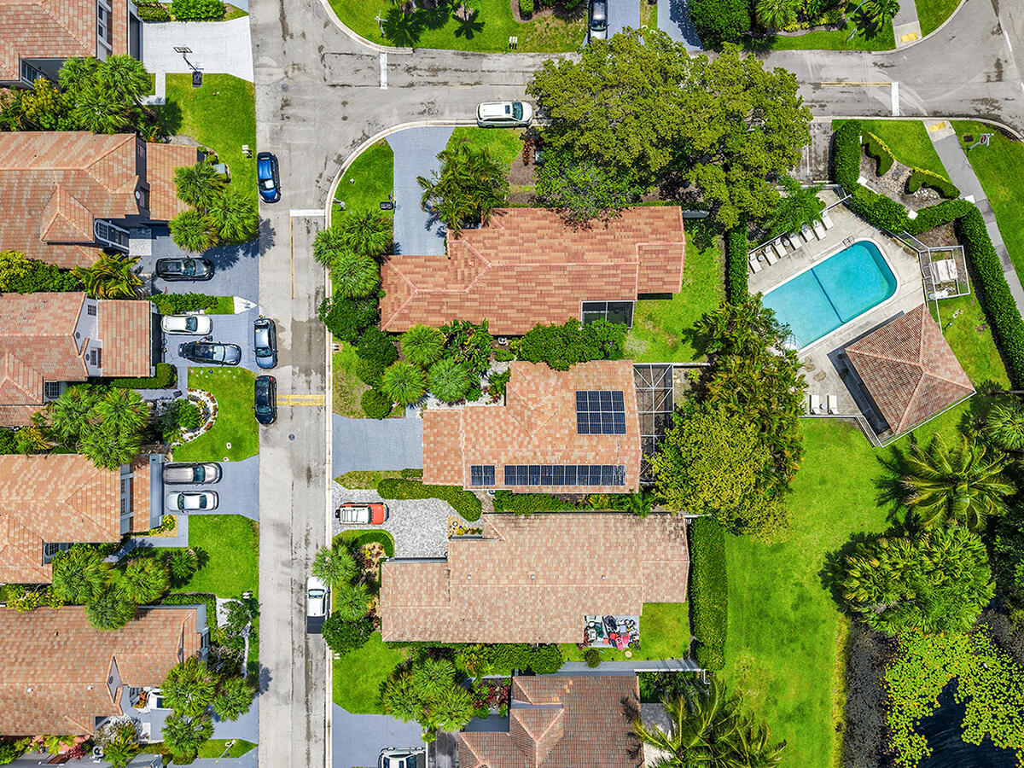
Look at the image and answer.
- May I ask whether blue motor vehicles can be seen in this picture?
Yes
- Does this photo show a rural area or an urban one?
urban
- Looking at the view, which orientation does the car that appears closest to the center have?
from side to side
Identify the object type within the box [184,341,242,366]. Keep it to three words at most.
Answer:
car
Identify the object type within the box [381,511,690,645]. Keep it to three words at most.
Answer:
house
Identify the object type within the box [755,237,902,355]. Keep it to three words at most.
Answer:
swimming pool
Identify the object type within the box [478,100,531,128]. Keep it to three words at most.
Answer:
car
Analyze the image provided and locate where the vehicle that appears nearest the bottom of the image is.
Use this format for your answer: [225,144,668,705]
[378,748,428,768]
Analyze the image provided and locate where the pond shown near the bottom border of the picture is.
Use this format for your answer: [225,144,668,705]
[872,622,1024,768]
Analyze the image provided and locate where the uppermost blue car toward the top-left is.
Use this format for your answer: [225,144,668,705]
[256,153,281,204]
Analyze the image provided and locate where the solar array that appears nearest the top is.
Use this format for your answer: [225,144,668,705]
[576,391,625,434]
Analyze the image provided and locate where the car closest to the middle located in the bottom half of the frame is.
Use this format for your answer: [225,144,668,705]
[338,502,391,527]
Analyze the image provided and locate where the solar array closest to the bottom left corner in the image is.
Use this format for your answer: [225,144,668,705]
[470,466,495,486]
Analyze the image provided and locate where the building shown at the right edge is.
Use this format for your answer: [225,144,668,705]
[834,302,977,437]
